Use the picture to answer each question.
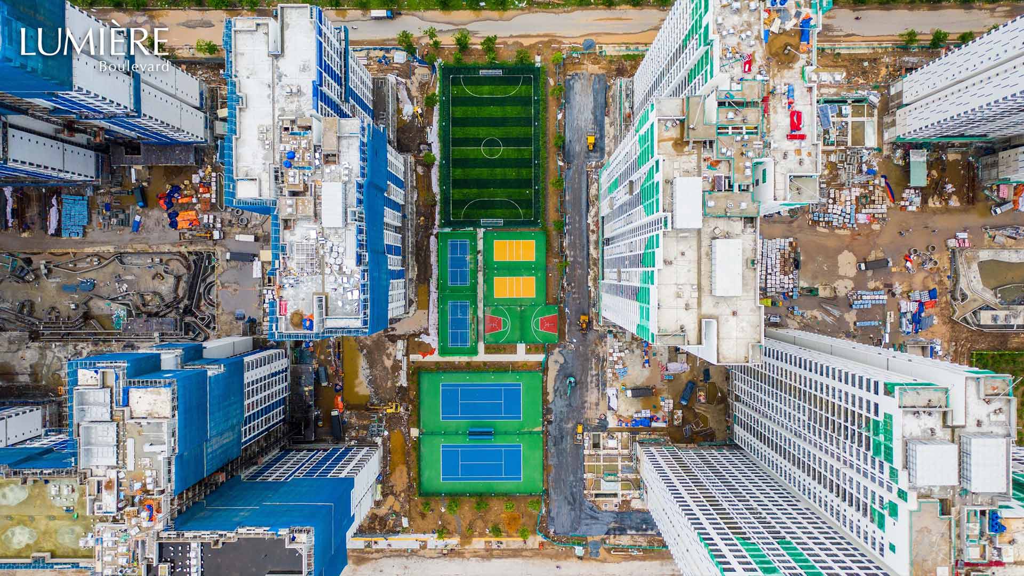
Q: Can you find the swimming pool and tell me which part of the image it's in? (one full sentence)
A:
The swimming pool appears toward the right of the photo.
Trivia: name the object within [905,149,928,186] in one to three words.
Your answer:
shed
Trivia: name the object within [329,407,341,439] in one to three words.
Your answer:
vehicle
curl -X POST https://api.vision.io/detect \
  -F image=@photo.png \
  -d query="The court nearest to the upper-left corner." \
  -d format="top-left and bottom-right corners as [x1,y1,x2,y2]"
[439,231,477,293]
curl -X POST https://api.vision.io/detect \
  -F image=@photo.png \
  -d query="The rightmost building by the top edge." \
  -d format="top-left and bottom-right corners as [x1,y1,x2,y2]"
[901,14,1024,142]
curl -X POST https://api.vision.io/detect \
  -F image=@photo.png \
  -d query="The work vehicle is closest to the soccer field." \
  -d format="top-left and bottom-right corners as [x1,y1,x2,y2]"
[413,101,427,132]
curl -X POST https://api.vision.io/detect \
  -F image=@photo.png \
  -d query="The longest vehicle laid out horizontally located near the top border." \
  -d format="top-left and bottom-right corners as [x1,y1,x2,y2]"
[367,5,393,17]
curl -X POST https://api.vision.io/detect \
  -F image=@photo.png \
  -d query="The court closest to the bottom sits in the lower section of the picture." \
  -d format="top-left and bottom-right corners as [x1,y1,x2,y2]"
[419,436,543,497]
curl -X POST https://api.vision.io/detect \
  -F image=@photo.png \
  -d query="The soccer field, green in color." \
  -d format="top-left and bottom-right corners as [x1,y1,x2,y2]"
[441,66,539,227]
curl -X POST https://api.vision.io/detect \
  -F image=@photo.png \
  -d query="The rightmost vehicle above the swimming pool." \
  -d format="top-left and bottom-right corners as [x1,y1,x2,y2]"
[994,197,1023,215]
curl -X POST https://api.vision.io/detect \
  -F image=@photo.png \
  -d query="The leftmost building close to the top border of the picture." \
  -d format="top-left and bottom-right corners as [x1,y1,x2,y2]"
[0,0,203,143]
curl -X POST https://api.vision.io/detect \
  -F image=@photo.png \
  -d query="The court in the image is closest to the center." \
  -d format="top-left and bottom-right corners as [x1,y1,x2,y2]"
[484,269,546,305]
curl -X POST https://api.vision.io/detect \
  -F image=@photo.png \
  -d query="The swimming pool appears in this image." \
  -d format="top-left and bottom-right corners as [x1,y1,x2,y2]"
[951,248,1024,332]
